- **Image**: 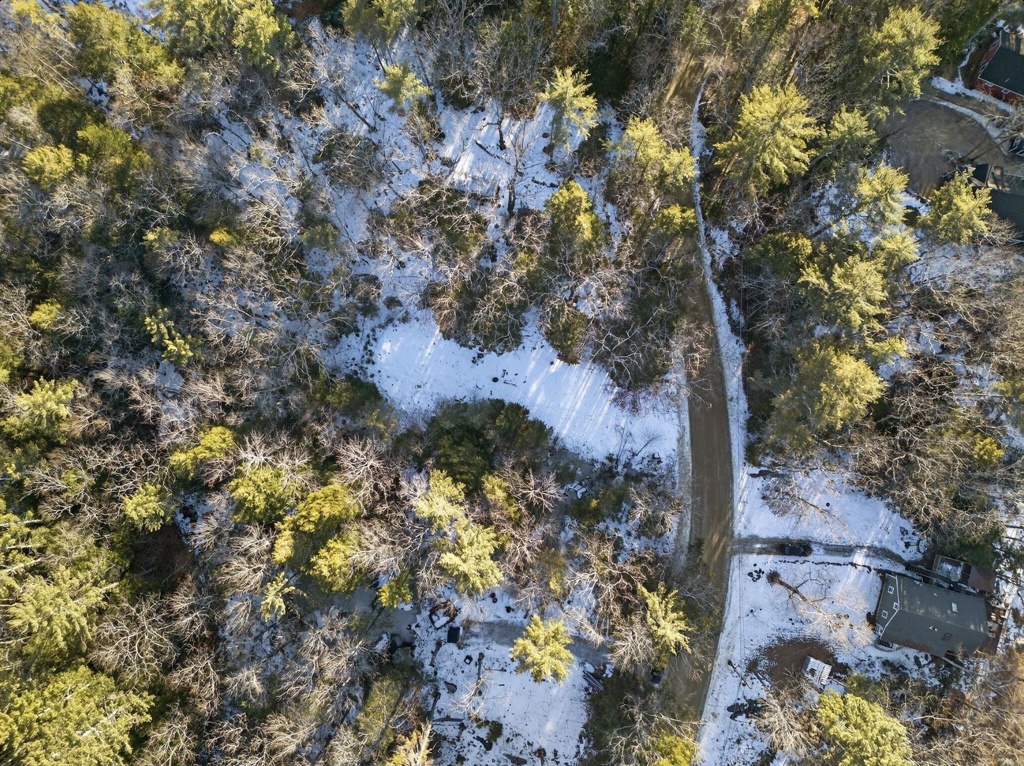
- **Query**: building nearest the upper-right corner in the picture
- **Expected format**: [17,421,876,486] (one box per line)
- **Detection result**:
[960,28,1024,117]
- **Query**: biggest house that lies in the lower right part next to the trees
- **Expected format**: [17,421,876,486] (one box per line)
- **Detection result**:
[871,552,1014,665]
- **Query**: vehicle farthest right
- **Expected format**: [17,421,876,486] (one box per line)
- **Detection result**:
[780,541,811,556]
